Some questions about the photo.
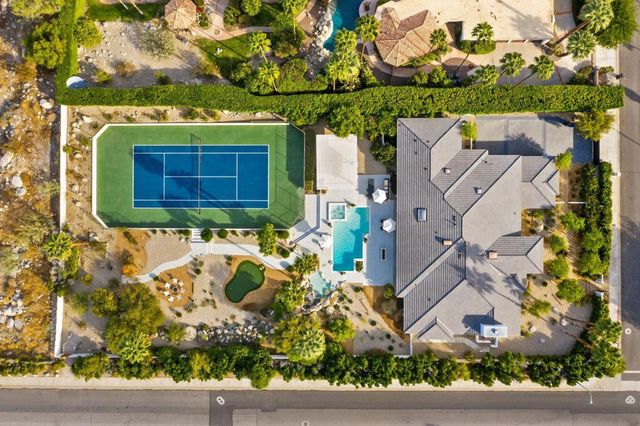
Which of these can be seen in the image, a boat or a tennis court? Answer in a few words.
tennis court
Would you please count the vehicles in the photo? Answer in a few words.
0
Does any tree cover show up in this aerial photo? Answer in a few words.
Yes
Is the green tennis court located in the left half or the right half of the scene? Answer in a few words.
left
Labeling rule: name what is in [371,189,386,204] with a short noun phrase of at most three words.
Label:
umbrella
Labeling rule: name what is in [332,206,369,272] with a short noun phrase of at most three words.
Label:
swimming pool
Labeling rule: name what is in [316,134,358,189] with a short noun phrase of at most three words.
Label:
building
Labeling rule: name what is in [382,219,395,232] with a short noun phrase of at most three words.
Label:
umbrella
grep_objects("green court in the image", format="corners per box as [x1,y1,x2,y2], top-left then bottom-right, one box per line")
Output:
[92,106,306,230]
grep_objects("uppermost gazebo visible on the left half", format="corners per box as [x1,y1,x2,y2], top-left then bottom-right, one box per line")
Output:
[164,0,200,32]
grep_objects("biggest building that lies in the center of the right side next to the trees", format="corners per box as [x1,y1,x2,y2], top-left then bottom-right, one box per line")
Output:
[397,117,561,342]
